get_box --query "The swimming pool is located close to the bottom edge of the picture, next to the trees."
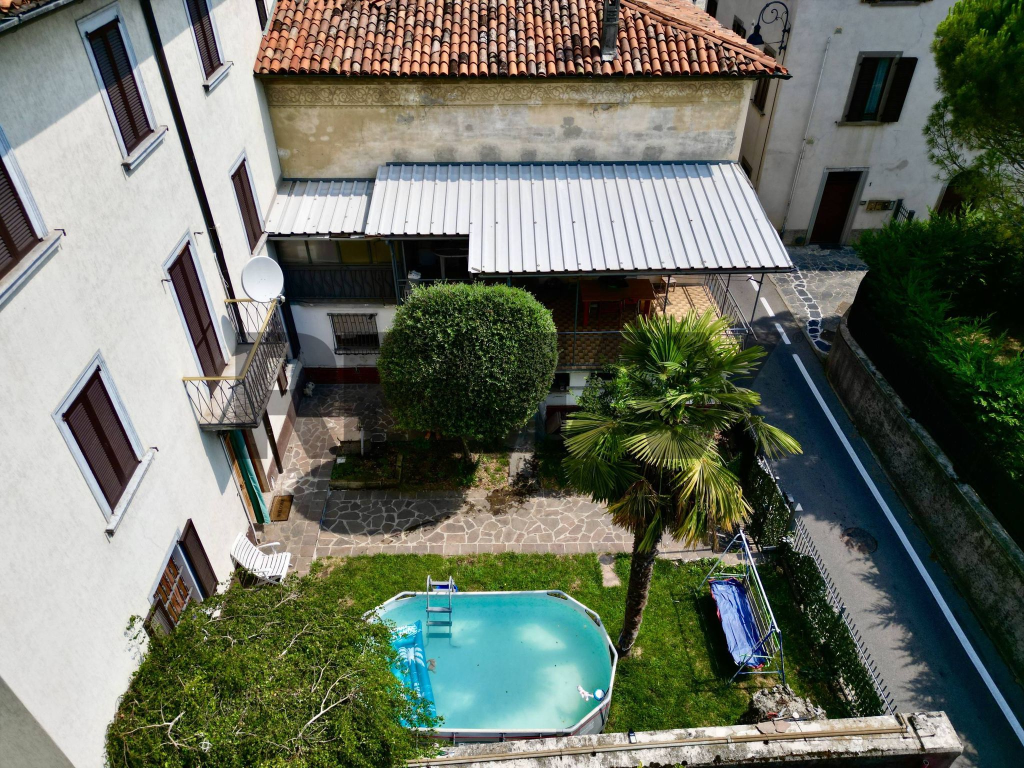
[360,590,620,752]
